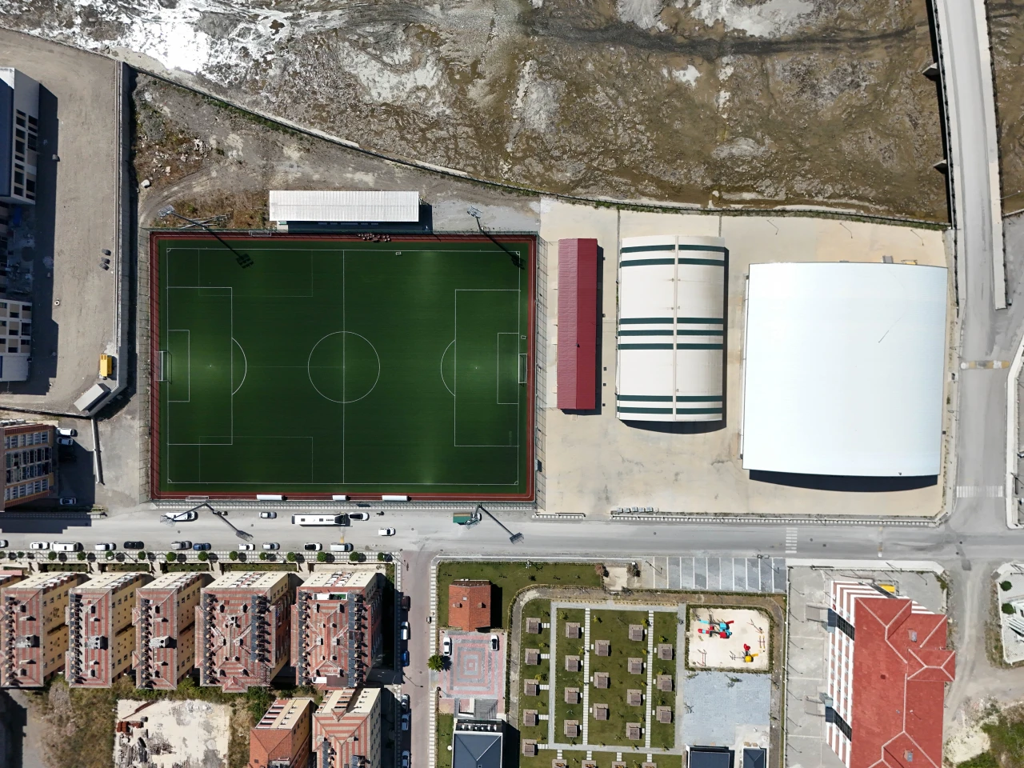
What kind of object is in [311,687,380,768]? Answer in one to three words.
building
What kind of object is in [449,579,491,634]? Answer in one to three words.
house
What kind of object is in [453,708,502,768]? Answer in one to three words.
house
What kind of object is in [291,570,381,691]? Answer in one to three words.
building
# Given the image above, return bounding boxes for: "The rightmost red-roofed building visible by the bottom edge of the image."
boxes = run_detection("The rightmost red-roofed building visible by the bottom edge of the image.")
[819,583,956,768]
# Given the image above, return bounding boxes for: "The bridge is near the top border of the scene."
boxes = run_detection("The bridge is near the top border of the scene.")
[918,0,1007,231]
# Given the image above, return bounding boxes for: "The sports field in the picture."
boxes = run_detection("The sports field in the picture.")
[149,231,535,503]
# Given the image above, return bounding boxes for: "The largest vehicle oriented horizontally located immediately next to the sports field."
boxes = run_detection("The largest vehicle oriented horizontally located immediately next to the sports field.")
[292,514,347,527]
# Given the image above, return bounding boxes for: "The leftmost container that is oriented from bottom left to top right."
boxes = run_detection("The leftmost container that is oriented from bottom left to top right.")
[75,384,110,411]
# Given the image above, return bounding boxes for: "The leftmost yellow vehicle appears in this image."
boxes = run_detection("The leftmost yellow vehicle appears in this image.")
[99,355,113,379]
